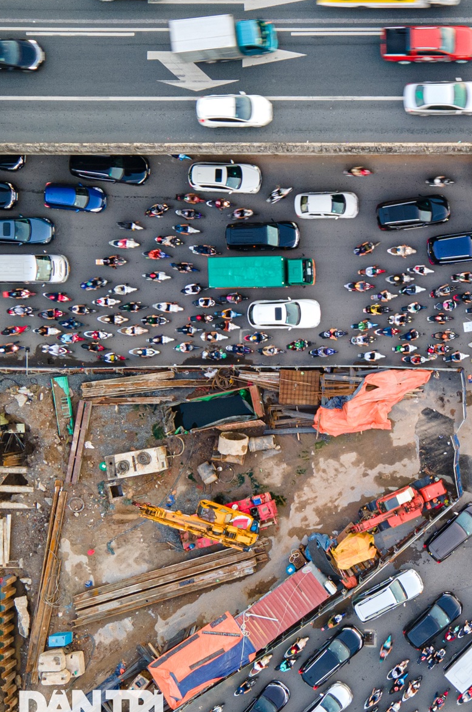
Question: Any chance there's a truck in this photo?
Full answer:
Yes, you can see a truck in this photo.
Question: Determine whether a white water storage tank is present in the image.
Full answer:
No, no white water storage tank is visible in the view.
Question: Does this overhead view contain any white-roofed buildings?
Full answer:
No, the picture doesn't show any white-roofed building.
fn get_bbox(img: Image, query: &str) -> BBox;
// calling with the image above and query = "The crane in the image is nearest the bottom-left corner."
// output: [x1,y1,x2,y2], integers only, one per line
[140,481,290,554]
